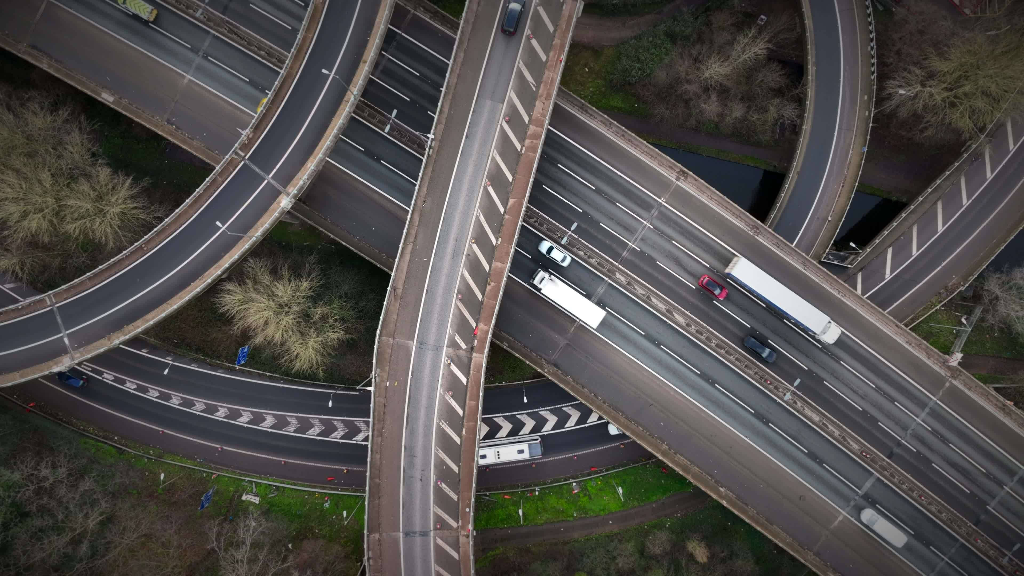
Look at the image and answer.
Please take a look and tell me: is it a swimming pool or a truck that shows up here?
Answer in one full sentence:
This aerial view contains a truck.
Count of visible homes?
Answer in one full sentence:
The count of homes is 0.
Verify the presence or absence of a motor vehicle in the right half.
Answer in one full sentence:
Yes, there is a motor vehicle in the right half.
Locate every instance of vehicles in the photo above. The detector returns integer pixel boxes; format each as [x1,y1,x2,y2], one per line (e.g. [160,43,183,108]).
[697,275,727,300]
[724,256,839,347]
[477,437,542,467]
[256,99,264,111]
[607,422,623,435]
[537,240,571,267]
[106,0,158,24]
[860,507,913,551]
[56,369,87,389]
[742,335,775,362]
[529,266,607,329]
